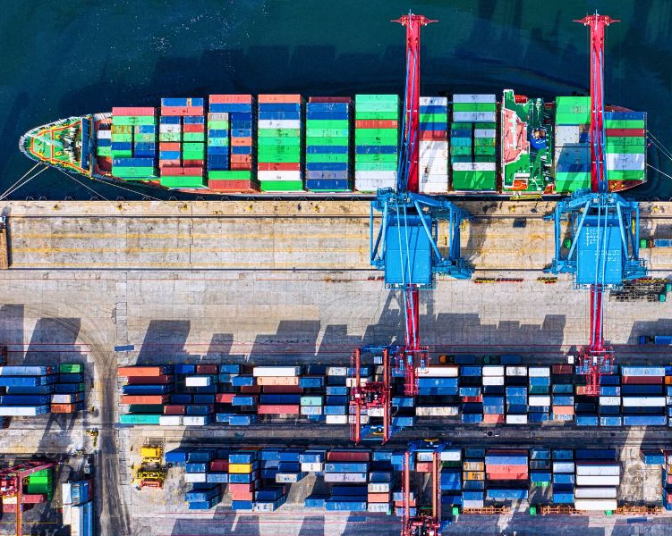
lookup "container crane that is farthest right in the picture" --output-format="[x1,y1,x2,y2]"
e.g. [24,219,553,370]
[536,2,657,395]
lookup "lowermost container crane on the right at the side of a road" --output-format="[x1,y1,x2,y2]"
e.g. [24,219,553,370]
[399,442,454,536]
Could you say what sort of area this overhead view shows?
port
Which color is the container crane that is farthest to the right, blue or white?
blue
